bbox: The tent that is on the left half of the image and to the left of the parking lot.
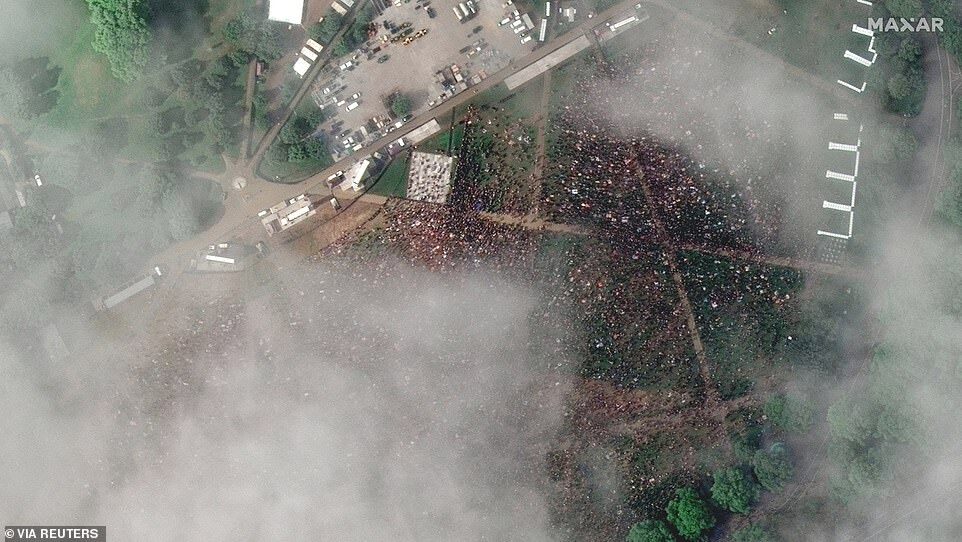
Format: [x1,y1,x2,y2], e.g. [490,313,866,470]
[266,0,302,24]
